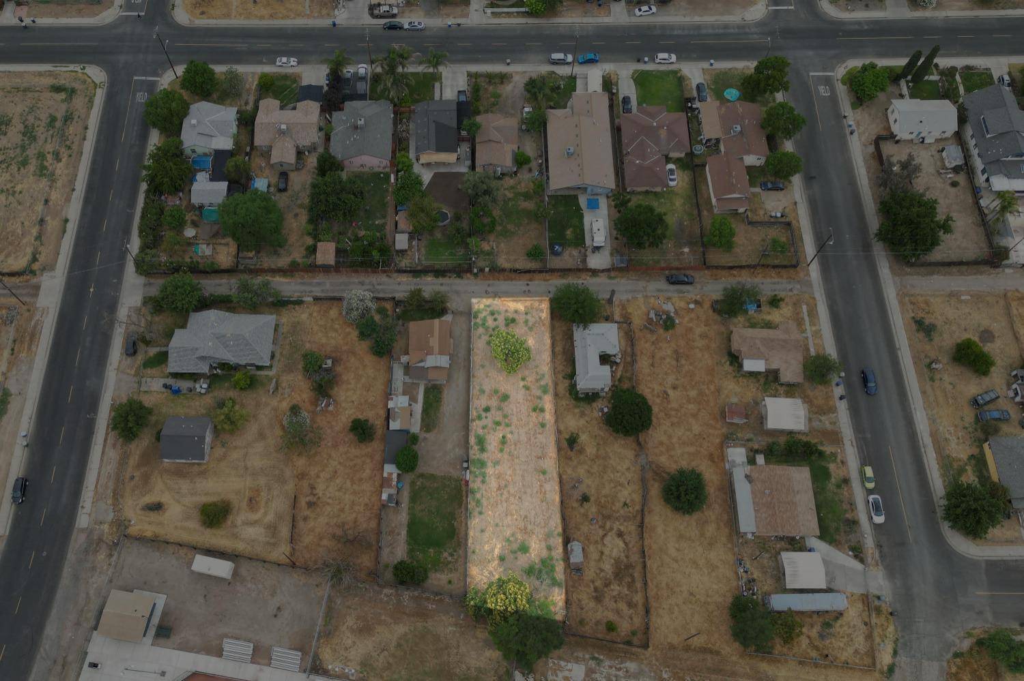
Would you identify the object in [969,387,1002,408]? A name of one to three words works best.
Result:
car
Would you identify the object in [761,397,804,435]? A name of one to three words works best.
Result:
shed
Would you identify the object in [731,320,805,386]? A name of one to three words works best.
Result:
house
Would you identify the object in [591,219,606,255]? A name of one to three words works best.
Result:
vehicle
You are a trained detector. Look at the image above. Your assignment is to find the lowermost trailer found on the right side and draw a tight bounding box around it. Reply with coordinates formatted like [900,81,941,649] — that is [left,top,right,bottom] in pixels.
[766,593,847,612]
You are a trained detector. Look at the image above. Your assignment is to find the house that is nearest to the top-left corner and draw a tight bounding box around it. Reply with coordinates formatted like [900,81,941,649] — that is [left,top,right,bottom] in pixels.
[183,101,239,157]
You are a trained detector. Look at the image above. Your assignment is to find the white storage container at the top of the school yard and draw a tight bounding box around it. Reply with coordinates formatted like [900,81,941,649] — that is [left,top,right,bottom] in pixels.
[191,554,239,582]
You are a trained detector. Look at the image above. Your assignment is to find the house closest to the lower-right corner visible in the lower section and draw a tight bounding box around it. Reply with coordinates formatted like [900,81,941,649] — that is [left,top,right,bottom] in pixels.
[982,434,1024,512]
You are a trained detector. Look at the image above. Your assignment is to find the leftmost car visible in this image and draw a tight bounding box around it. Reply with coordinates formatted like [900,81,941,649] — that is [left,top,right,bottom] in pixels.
[8,473,31,505]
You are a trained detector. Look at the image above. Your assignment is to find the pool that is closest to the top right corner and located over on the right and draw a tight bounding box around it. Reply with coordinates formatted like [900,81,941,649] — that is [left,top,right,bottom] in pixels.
[723,88,740,102]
